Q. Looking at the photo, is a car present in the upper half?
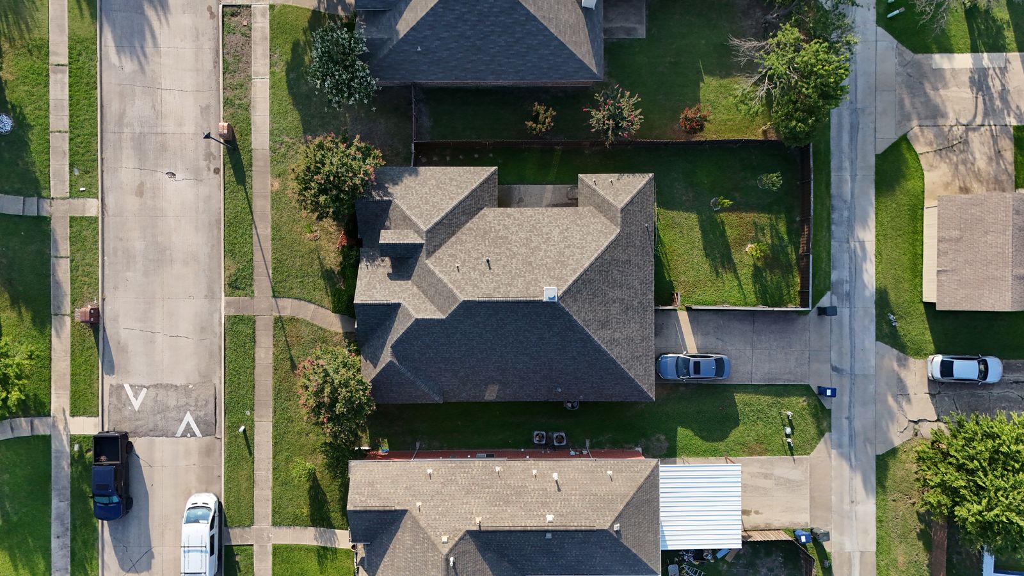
No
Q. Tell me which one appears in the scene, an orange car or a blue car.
blue car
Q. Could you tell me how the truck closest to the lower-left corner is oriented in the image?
vertically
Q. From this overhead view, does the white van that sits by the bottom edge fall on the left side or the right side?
left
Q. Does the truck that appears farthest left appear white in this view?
No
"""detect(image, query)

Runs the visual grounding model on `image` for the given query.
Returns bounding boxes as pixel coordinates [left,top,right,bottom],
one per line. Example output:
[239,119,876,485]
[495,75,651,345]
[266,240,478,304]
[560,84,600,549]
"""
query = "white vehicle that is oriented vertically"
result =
[181,489,222,576]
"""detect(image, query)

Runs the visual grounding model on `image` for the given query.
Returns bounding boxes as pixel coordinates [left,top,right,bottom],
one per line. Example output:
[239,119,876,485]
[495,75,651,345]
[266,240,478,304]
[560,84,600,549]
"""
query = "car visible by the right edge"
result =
[927,352,1004,386]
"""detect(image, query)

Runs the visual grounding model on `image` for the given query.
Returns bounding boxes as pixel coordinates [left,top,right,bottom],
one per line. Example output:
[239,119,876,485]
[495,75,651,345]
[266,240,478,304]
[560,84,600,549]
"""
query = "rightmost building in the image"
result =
[922,191,1024,311]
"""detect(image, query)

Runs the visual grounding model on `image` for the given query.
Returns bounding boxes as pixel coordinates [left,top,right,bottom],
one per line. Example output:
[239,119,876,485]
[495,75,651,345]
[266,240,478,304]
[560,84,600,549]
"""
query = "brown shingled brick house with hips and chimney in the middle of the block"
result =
[355,166,656,404]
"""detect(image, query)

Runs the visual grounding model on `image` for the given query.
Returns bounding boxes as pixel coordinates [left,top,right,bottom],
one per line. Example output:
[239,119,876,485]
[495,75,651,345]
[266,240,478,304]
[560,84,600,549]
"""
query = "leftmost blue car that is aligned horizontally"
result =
[655,351,730,385]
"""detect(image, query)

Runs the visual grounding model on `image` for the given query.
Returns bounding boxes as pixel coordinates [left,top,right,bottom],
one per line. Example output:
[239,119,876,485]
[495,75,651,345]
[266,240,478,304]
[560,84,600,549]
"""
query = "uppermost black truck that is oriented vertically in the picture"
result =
[90,428,133,520]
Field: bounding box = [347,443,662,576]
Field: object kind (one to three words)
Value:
house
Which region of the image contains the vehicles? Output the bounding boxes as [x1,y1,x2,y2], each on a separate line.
[181,489,222,576]
[90,428,133,520]
[655,351,730,385]
[927,352,1004,386]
